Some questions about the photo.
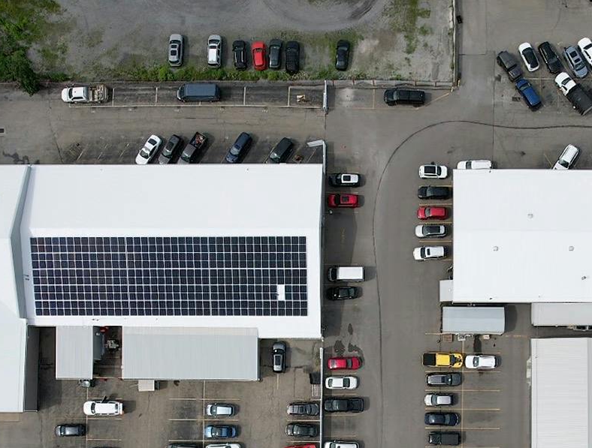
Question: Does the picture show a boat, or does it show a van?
van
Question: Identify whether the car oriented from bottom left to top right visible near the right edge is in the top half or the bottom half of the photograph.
top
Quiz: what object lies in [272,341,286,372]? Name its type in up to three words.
car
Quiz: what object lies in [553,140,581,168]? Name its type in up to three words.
car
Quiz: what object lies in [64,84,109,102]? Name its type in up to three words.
vehicle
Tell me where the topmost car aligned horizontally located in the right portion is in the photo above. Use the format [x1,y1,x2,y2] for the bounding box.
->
[384,88,423,106]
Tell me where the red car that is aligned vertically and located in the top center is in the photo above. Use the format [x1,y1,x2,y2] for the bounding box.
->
[252,43,266,71]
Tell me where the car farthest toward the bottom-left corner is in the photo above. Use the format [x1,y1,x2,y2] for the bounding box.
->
[56,423,87,437]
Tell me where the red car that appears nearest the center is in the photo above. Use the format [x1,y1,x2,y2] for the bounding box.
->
[327,193,359,208]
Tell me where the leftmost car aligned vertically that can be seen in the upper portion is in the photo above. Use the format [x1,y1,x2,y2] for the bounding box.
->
[168,36,183,68]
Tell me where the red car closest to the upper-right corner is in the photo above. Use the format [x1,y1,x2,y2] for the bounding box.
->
[417,206,447,221]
